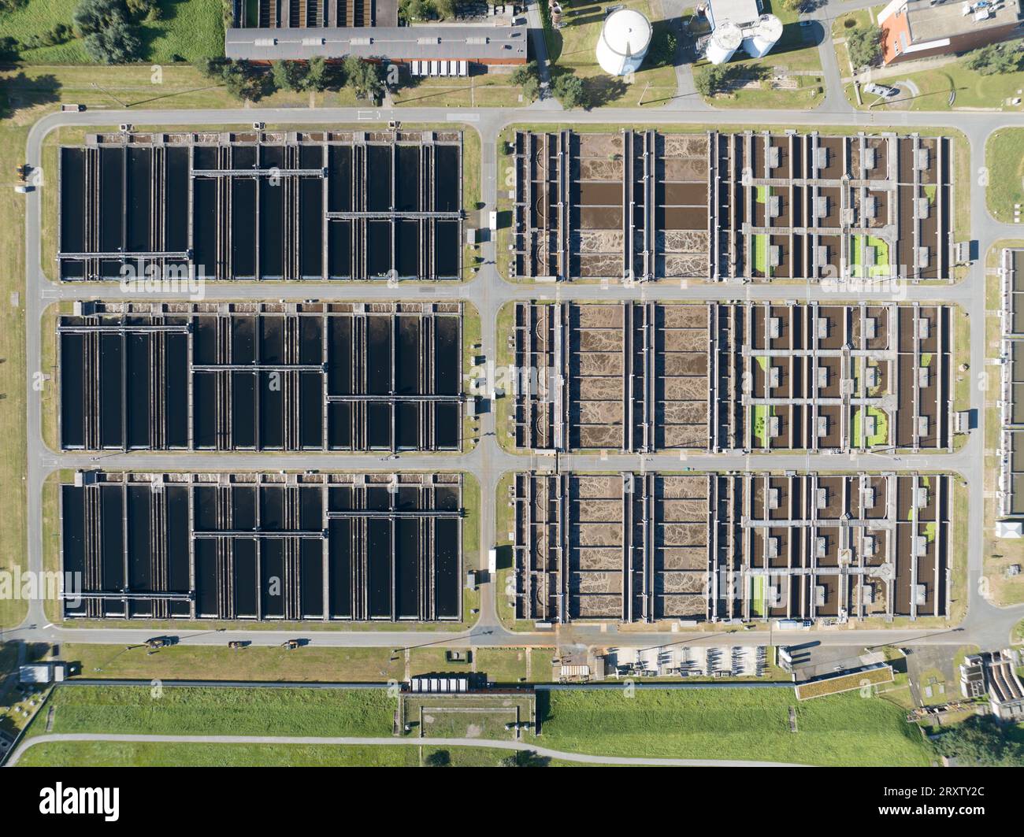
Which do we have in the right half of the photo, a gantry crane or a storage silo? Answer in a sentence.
What appears in the right half of the photo is a storage silo.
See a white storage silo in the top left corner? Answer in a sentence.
No, I see no white storage silo in the top left corner.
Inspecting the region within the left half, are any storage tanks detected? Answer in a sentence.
No, I can find no storage tank within the left half.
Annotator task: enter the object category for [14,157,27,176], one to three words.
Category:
vehicle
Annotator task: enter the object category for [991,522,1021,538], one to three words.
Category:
building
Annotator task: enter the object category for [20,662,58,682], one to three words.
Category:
shed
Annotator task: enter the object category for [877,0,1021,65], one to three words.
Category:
building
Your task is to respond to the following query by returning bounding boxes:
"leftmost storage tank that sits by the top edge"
[598,6,655,77]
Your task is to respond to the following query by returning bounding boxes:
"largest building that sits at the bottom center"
[398,689,536,739]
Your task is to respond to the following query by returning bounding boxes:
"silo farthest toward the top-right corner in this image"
[745,12,785,57]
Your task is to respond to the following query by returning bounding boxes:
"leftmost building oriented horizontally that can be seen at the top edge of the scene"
[224,28,527,64]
